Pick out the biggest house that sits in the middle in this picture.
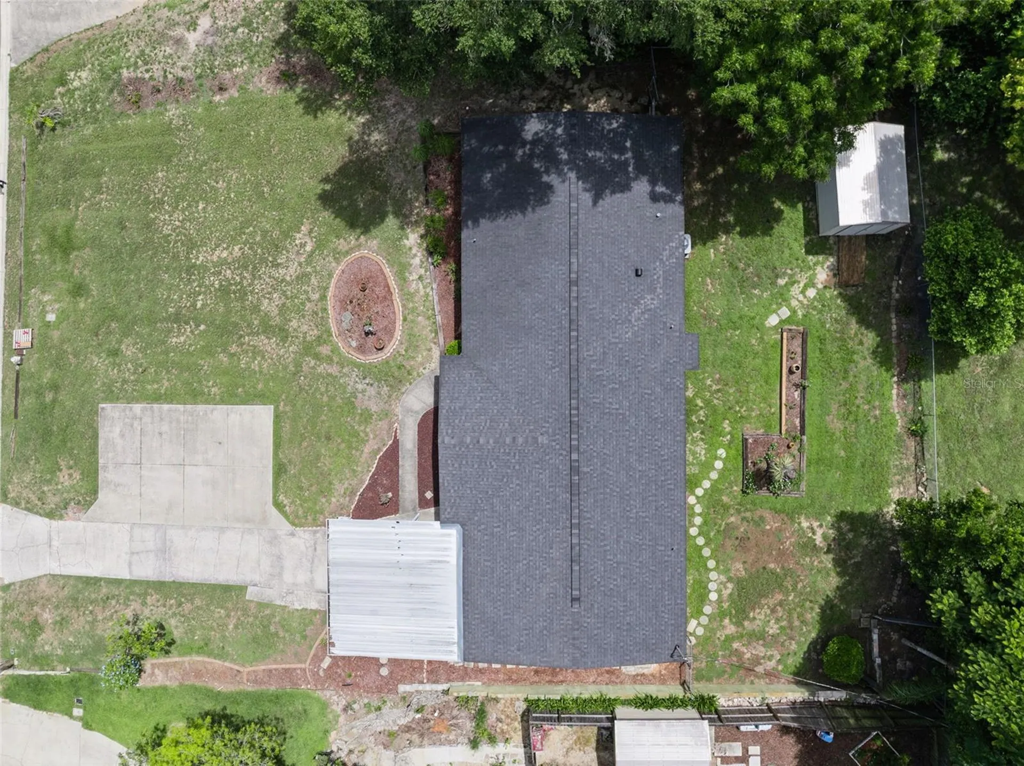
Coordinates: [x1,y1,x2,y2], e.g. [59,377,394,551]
[437,111,699,670]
